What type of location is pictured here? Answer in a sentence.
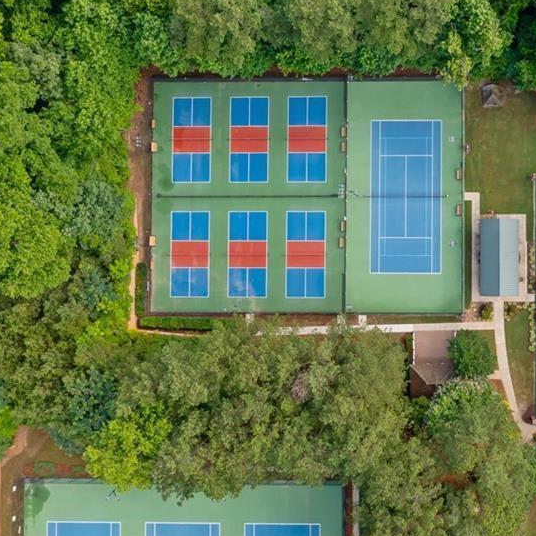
The picture captures a sports ground.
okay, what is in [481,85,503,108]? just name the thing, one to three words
shed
